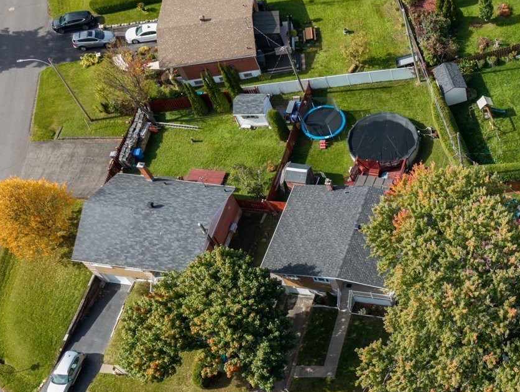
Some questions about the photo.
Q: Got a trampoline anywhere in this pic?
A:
Yes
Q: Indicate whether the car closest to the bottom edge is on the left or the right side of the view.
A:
left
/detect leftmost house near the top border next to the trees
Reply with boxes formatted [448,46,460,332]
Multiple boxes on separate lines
[157,0,259,85]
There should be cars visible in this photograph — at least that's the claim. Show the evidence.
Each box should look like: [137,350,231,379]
[125,22,157,42]
[45,348,90,392]
[51,9,97,31]
[70,28,114,49]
